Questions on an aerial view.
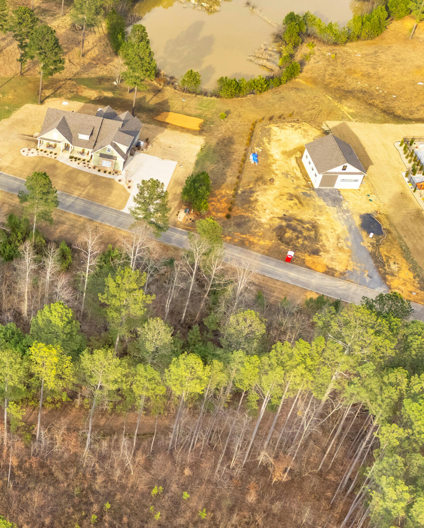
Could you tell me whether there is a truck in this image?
No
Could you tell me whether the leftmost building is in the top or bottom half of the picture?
top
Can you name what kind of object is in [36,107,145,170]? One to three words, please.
building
